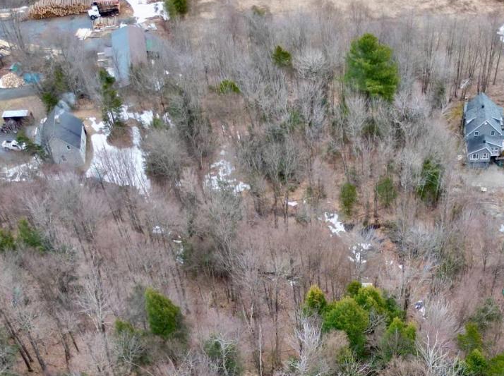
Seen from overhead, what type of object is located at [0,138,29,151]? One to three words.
vehicle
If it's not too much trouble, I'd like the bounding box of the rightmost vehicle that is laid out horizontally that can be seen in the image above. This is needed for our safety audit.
[86,2,121,21]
